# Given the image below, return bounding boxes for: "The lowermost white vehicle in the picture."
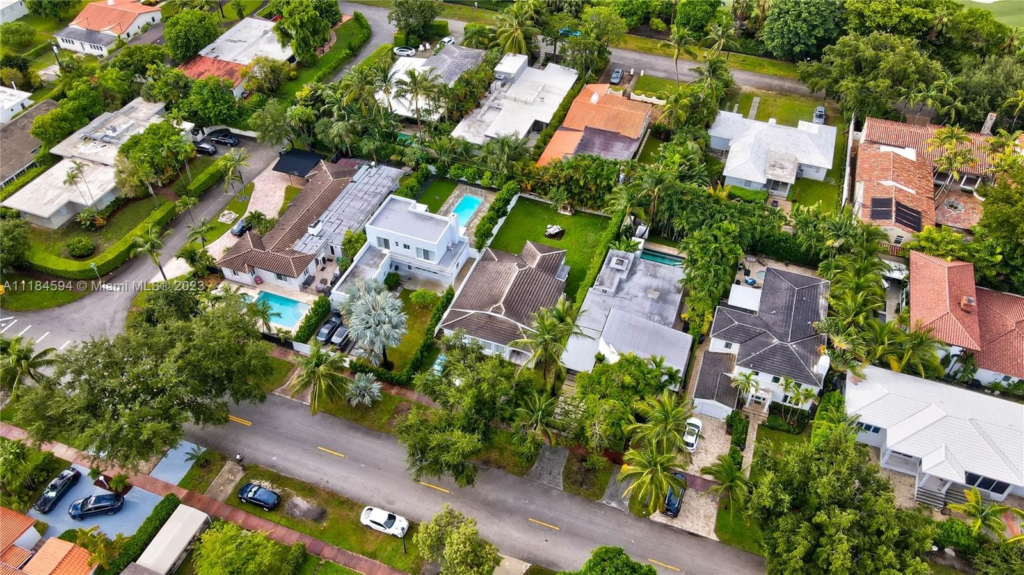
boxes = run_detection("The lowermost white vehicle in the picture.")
[358,505,409,539]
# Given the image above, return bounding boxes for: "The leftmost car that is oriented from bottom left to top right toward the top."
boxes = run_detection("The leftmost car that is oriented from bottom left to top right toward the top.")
[227,214,257,237]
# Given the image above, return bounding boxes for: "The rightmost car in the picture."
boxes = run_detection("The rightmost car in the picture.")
[812,105,827,124]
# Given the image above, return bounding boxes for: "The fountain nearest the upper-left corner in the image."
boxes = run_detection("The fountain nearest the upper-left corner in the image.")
[213,209,241,225]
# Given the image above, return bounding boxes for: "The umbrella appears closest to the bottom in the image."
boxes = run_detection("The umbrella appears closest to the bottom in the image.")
[743,272,761,284]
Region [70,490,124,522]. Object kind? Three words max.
car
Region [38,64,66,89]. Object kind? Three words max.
shed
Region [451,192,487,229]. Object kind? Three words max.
swimming pool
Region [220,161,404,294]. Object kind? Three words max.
house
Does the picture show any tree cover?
Yes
